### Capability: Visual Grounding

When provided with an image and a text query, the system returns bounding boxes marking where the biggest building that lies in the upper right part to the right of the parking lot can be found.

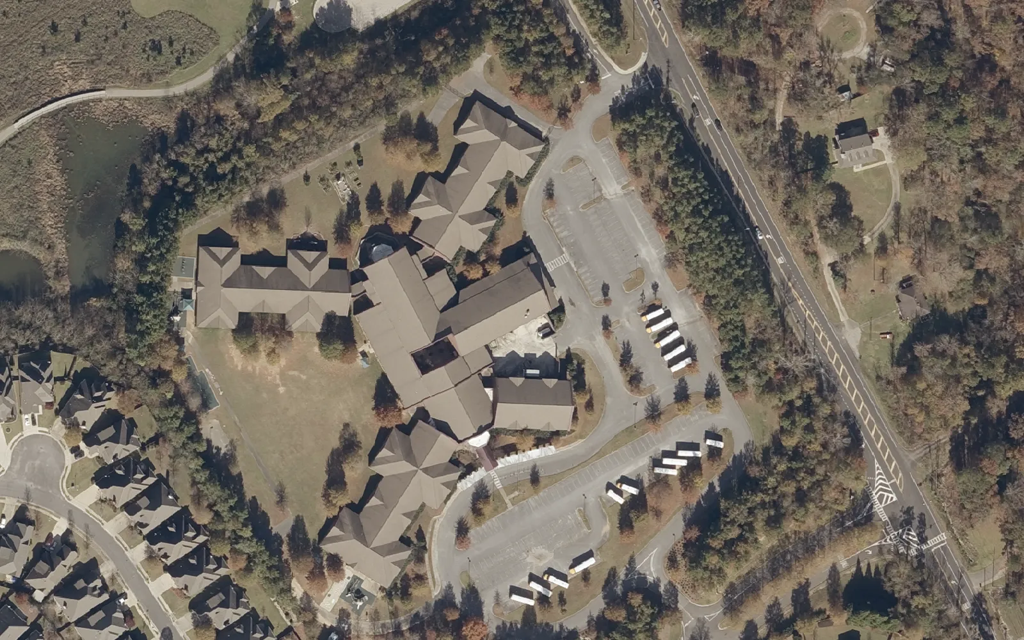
[836,129,878,170]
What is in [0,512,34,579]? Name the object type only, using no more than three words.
house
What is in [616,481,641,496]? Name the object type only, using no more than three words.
vehicle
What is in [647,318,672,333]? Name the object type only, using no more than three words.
vehicle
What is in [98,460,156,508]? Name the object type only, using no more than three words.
house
